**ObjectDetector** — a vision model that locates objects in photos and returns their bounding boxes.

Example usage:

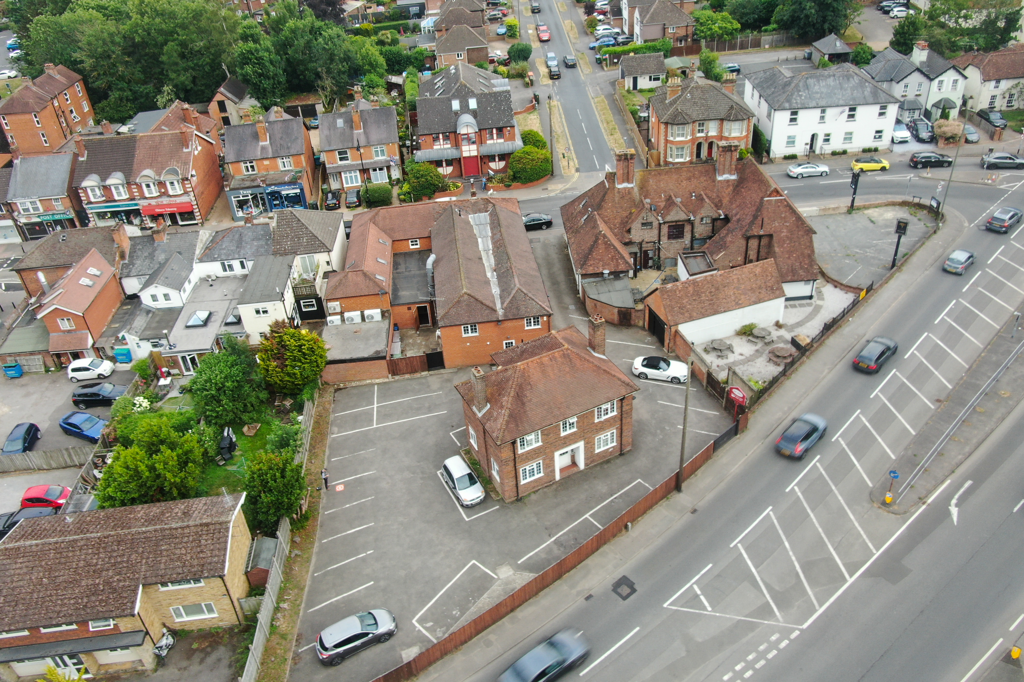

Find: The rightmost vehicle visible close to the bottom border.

[505,632,593,682]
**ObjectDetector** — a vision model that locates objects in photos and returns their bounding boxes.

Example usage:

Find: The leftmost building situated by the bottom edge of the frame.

[0,493,255,675]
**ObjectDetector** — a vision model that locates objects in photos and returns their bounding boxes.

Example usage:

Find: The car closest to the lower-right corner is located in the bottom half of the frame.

[781,415,829,459]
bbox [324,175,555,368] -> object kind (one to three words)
building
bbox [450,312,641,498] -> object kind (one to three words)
house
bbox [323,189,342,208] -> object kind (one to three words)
car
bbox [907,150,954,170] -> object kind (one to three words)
car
